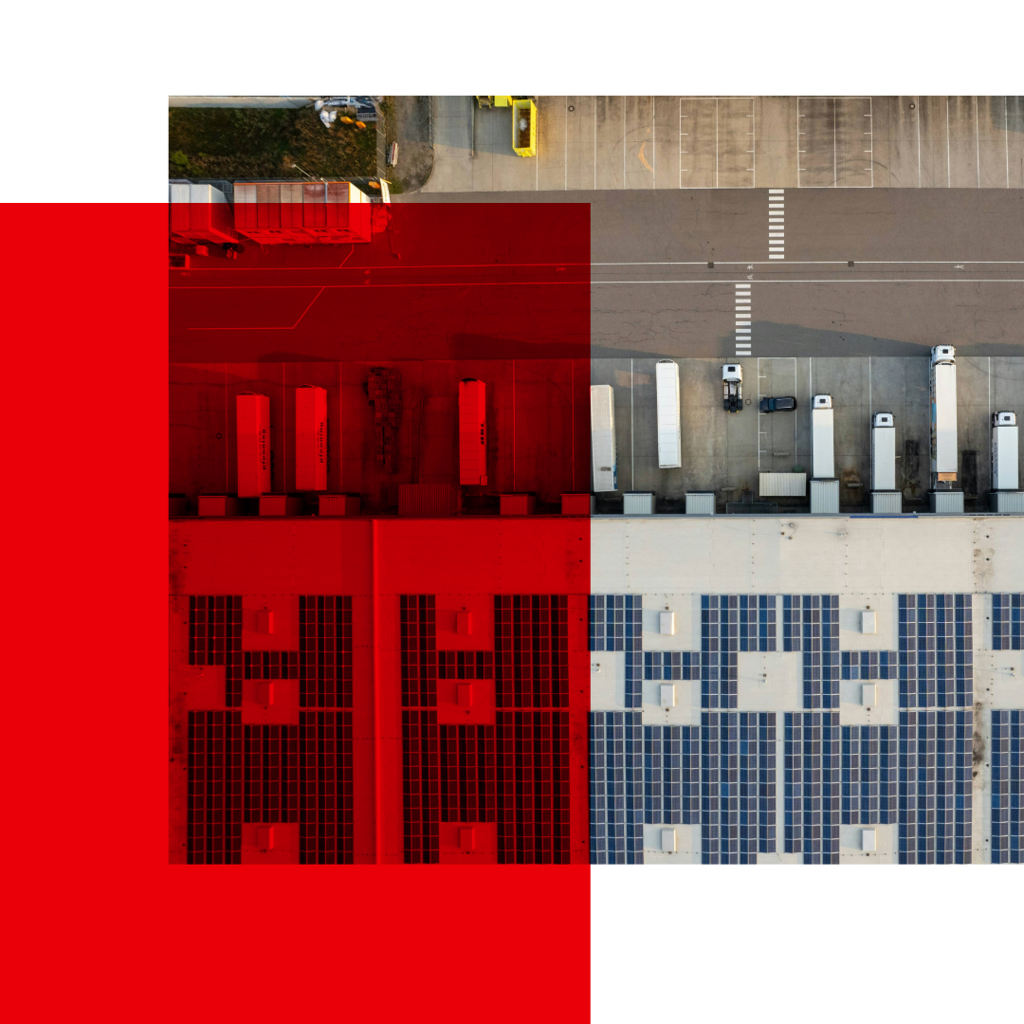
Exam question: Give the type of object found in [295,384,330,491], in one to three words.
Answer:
trailer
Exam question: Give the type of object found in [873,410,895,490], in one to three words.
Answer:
truck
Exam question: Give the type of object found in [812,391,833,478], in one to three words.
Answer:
truck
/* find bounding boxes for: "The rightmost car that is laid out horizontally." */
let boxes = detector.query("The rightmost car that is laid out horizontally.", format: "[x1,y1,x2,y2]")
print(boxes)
[759,395,797,413]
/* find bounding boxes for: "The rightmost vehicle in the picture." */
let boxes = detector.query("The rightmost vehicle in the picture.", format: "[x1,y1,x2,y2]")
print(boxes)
[993,409,1019,489]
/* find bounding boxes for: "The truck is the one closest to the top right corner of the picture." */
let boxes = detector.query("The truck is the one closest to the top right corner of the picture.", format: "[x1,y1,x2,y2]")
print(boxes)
[930,345,954,391]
